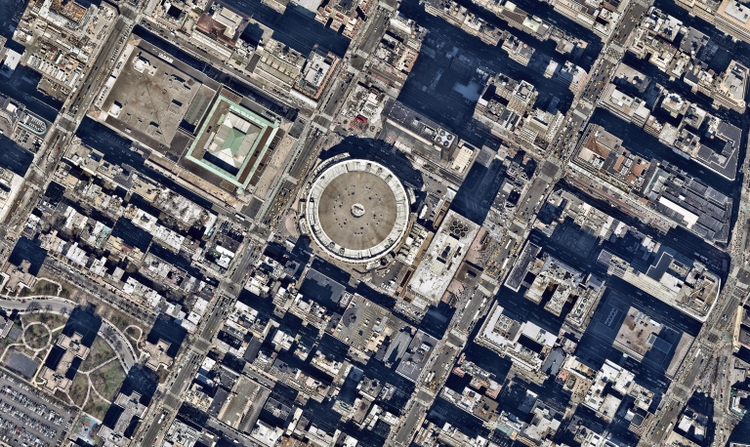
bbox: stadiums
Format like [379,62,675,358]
[299,157,410,262]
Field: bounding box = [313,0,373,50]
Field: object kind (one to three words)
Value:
building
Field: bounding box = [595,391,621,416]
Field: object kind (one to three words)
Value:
building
